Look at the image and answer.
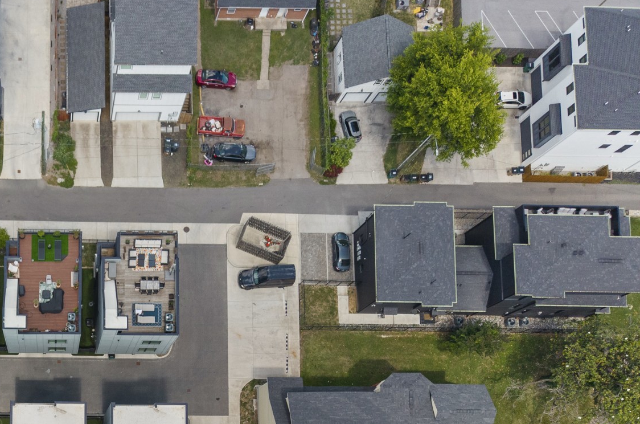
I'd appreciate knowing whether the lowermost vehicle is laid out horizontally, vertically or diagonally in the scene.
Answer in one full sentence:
What the image shows is the lowermost vehicle lying horizontally.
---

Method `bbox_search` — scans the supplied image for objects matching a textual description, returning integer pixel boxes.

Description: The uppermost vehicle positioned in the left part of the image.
[195,68,237,92]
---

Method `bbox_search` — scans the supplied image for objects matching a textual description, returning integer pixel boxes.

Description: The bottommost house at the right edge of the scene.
[461,204,640,318]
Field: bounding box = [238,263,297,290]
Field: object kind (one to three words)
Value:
vehicle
